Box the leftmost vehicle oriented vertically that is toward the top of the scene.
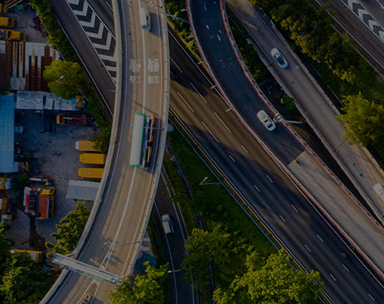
[42,108,55,134]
